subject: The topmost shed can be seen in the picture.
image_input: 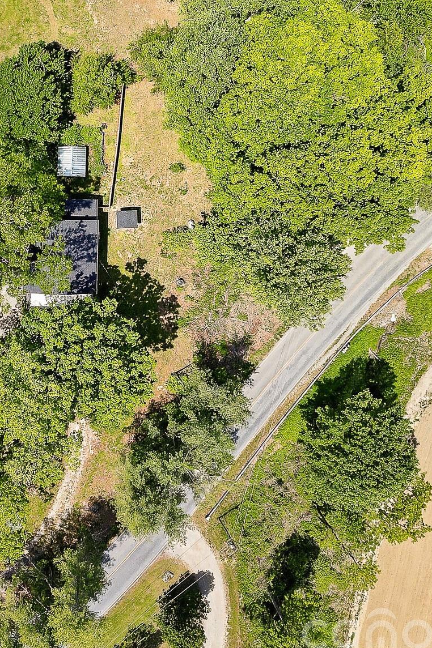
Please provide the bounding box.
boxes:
[57,145,86,177]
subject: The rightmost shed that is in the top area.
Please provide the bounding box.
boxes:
[117,211,137,229]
